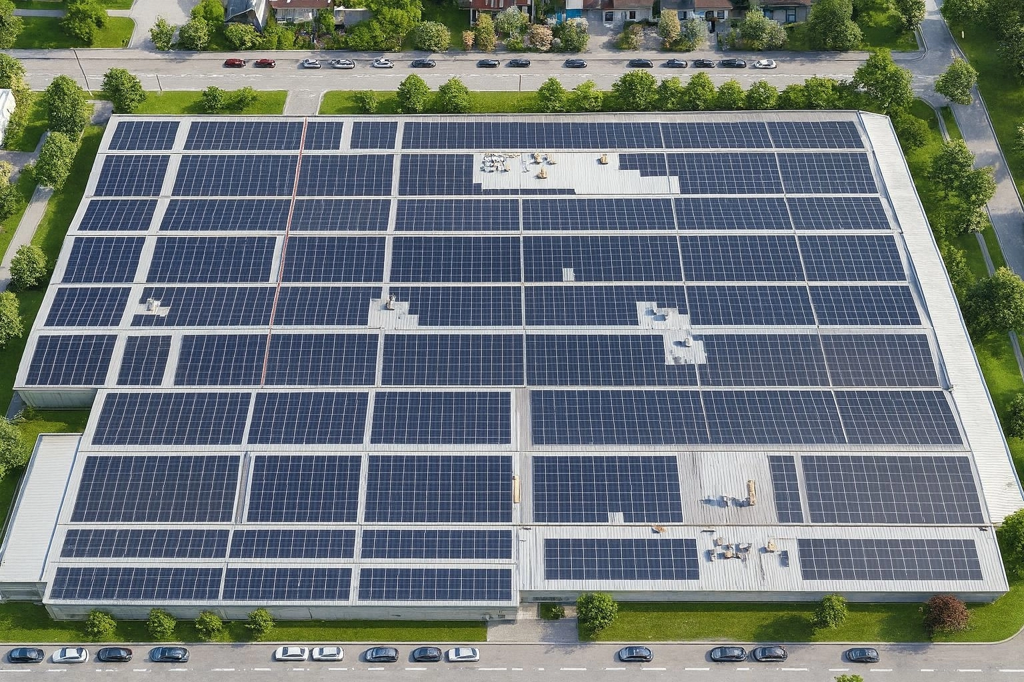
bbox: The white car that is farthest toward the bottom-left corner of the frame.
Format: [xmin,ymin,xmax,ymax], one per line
[51,646,90,665]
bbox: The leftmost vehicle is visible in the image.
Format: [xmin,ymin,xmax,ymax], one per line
[6,646,47,665]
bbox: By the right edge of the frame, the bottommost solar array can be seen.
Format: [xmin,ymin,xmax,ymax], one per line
[798,538,984,579]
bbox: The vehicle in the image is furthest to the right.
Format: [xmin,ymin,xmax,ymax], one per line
[845,647,882,665]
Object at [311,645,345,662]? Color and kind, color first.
white car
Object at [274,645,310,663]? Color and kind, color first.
white car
